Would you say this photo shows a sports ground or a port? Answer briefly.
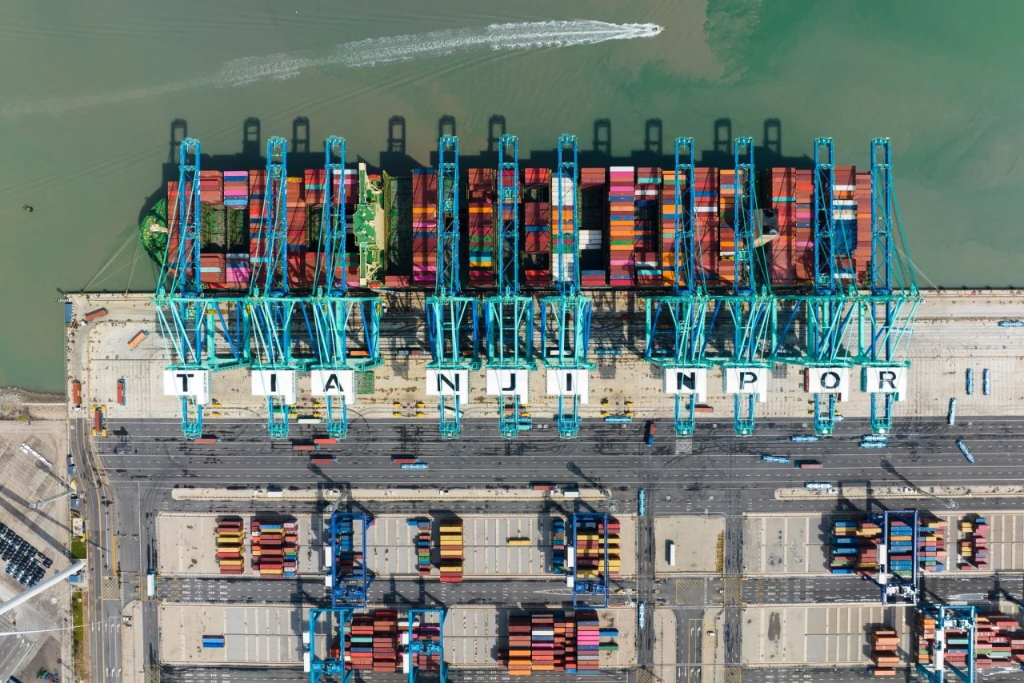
port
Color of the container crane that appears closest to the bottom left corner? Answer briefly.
blue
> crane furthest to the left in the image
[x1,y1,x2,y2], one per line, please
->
[149,135,262,437]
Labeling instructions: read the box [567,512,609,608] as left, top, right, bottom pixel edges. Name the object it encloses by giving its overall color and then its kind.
blue container crane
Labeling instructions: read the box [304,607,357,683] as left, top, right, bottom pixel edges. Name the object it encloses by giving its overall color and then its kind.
blue container crane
